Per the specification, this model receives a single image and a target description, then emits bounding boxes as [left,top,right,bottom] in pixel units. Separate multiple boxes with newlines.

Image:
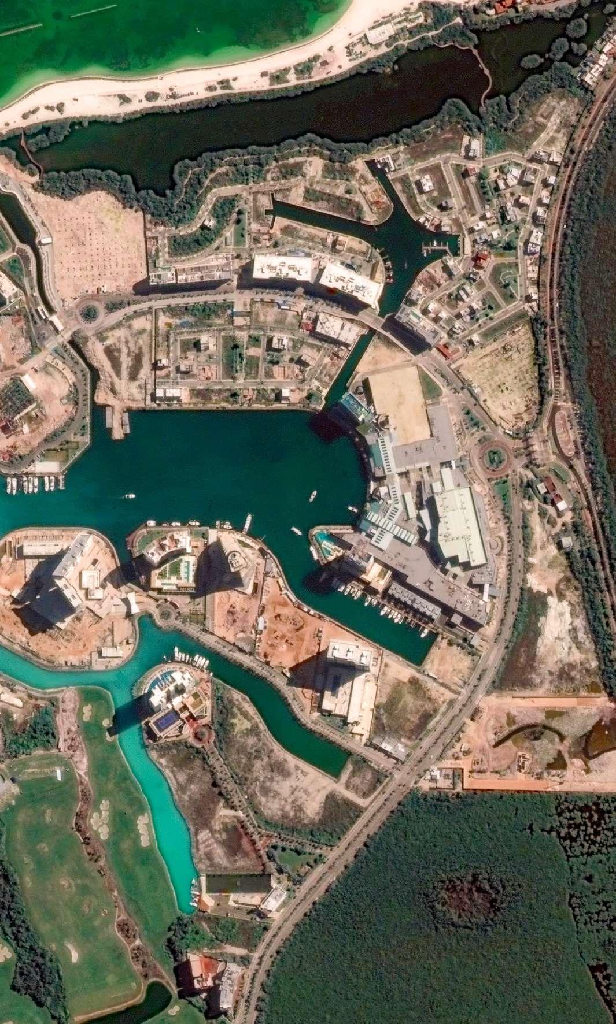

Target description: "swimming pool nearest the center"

[311,526,350,564]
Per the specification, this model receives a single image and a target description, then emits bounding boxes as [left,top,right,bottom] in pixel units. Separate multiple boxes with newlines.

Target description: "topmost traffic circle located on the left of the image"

[74,298,105,329]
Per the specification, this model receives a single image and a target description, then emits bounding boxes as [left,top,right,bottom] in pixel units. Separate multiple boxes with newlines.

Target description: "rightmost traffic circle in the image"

[472,436,516,480]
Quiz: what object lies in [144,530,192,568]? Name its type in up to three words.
building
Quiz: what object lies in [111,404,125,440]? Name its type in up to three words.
pier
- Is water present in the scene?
Yes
